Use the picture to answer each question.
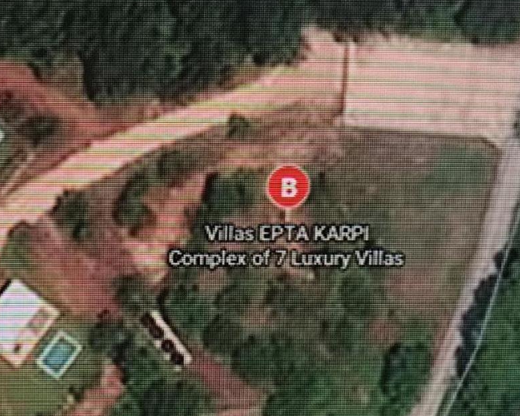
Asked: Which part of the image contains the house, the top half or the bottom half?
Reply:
bottom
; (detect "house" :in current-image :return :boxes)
[0,275,59,364]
